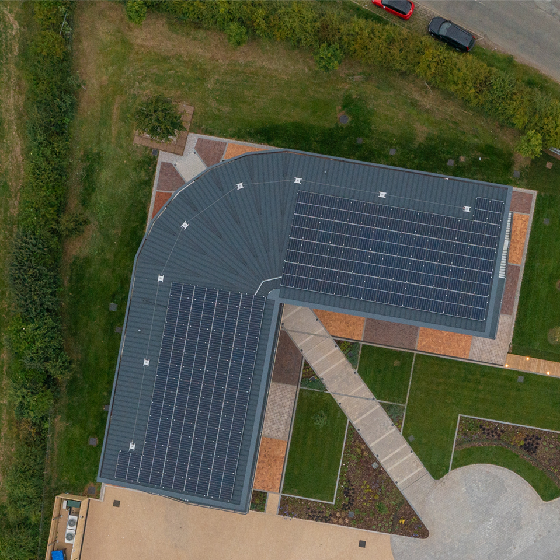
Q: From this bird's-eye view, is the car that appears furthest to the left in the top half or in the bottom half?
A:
top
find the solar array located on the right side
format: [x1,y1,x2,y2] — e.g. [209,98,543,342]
[281,190,503,319]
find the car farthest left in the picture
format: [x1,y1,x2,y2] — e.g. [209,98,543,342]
[371,0,419,25]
